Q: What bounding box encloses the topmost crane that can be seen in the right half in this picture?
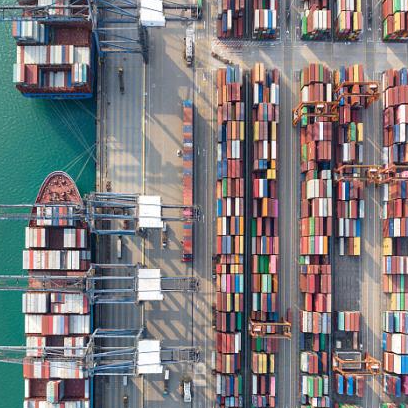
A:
[329,83,381,111]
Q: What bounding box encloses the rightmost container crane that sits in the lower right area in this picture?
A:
[327,351,379,377]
